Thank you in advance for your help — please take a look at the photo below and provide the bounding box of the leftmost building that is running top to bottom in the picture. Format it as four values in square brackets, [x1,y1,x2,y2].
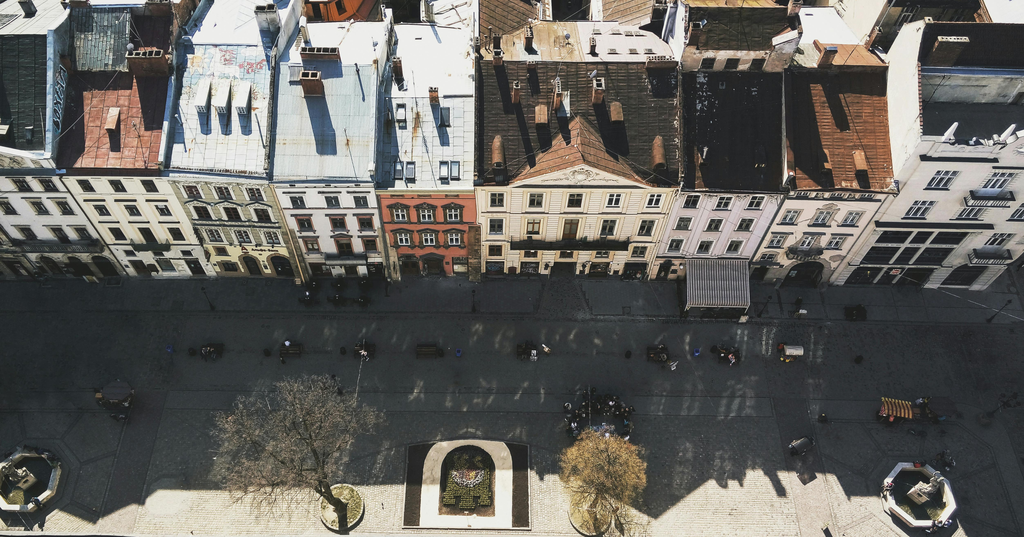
[0,0,129,279]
